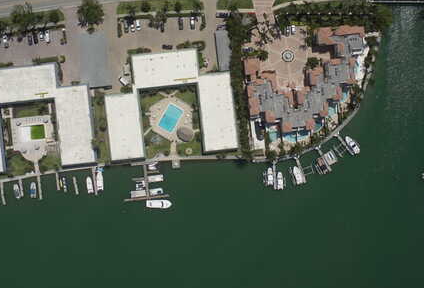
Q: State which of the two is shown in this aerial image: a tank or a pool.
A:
pool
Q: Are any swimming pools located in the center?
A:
Yes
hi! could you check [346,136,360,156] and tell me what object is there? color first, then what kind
white boat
